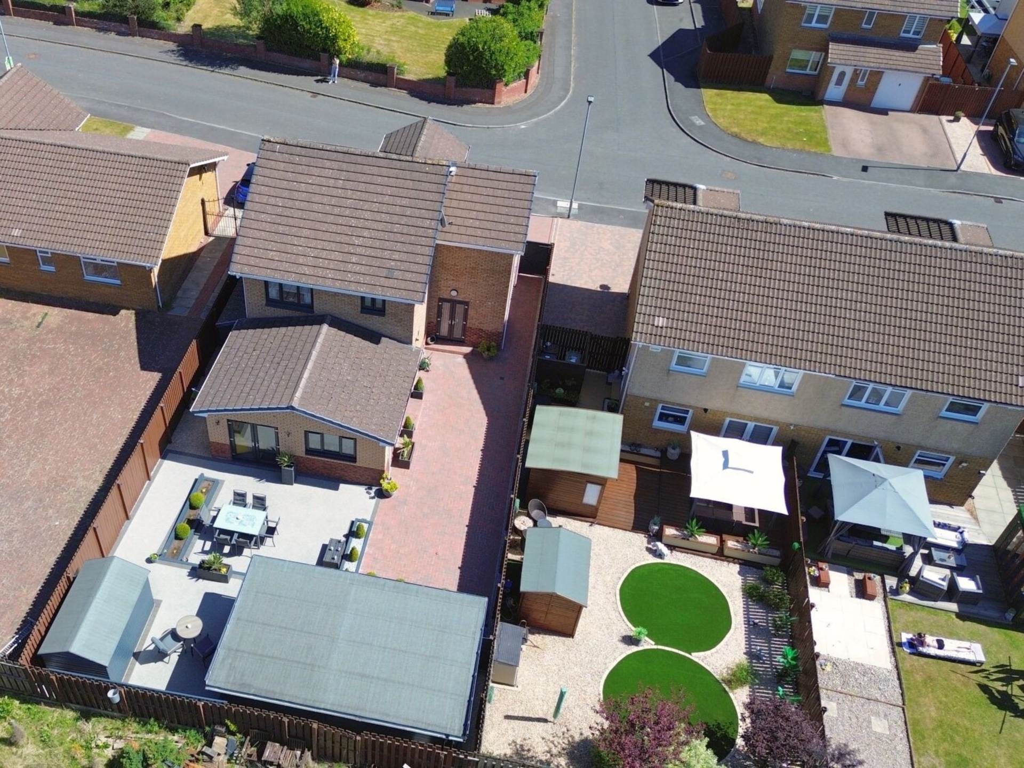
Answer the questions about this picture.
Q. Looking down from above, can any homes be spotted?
Yes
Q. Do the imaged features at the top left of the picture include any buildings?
Yes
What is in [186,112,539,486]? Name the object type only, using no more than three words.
house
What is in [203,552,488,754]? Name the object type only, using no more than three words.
building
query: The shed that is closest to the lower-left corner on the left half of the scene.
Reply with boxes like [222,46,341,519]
[31,555,156,683]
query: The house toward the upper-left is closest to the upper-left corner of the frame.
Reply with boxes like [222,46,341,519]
[0,60,228,308]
